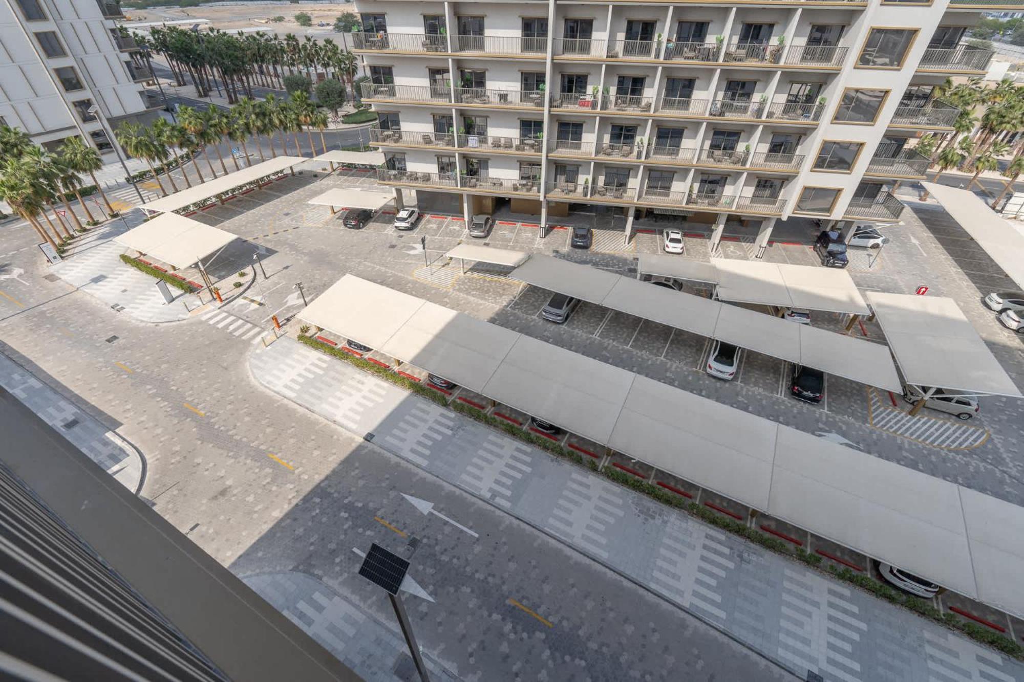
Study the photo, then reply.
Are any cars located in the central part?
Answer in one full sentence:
Yes, I can see a car in the central part.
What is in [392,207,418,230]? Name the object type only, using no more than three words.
car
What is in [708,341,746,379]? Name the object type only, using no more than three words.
car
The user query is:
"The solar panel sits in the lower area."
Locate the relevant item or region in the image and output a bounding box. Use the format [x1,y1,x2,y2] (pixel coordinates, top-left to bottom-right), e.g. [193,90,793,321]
[359,546,420,605]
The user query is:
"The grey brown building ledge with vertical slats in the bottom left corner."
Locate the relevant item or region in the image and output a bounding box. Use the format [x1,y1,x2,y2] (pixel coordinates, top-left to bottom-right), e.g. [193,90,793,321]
[0,384,380,682]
